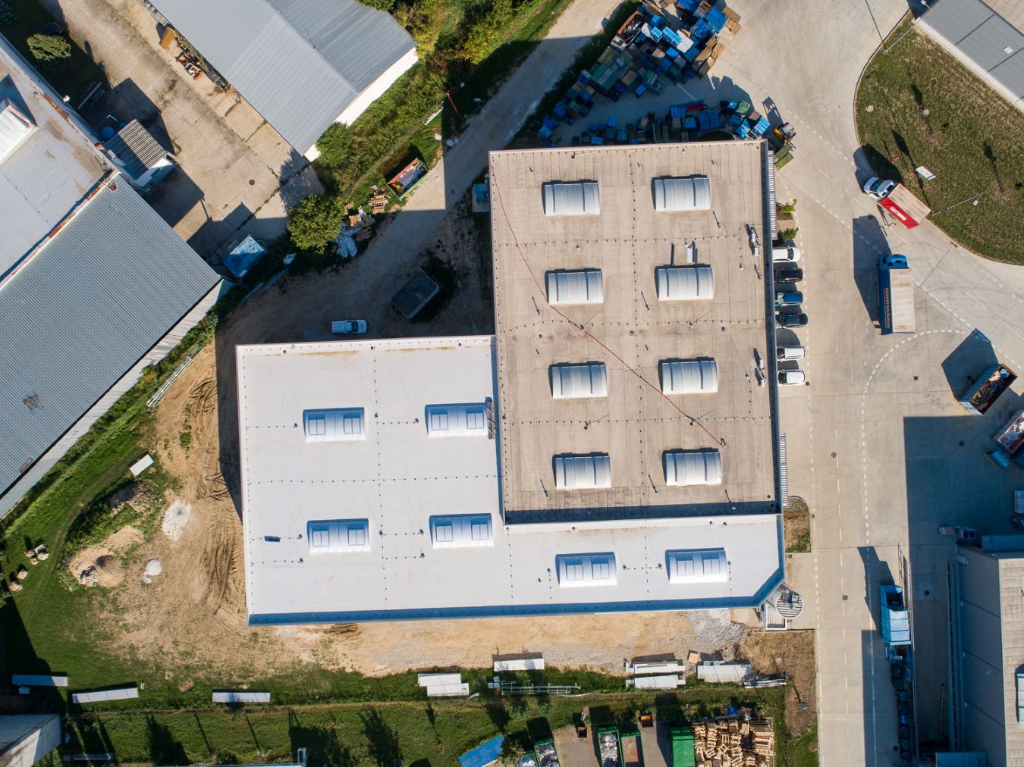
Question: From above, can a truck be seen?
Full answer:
Yes, I can see a truck in this picture.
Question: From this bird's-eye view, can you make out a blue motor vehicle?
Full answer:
Yes, the photo shows a blue motor vehicle.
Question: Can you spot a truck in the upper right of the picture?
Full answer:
Yes, a truck is visible in the upper right of the picture.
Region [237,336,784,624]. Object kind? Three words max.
building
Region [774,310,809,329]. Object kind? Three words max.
car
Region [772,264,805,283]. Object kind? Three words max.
car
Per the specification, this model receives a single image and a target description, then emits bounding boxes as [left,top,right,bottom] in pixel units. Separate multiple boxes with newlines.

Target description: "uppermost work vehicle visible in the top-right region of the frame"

[773,116,797,146]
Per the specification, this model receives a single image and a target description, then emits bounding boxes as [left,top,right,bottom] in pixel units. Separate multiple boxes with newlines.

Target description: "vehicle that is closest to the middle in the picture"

[328,317,367,335]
